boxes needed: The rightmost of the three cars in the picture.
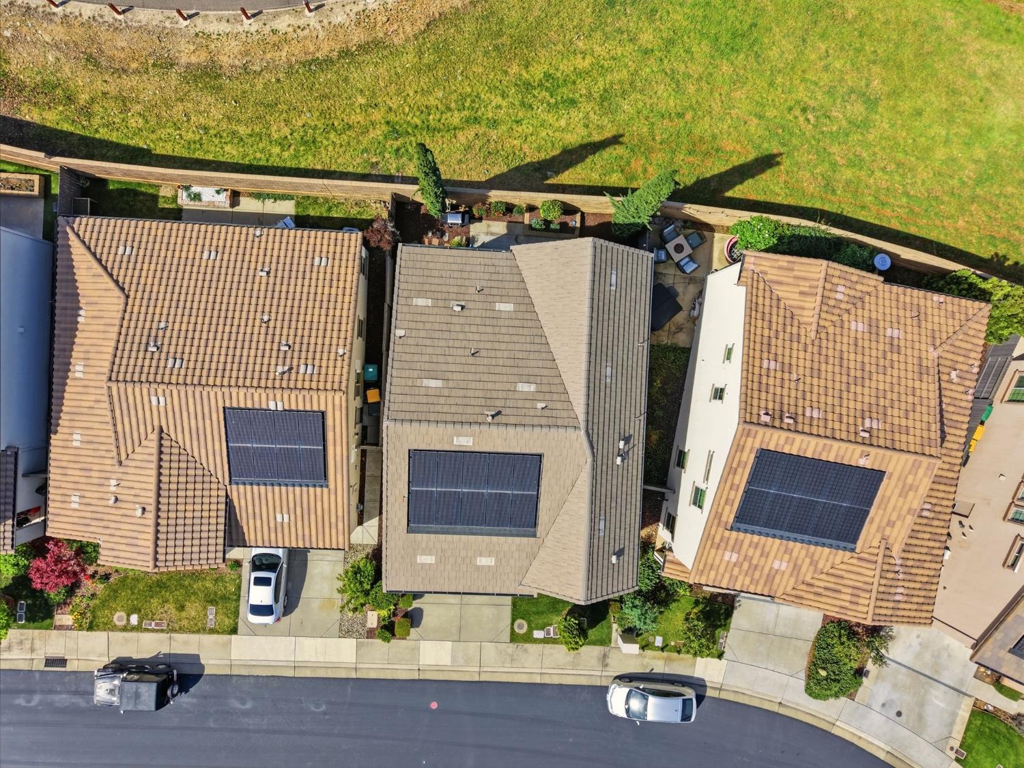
[604,673,695,721]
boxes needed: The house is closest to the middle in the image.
[380,234,656,606]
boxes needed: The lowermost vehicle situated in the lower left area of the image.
[97,661,177,710]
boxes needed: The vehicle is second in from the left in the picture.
[245,552,289,623]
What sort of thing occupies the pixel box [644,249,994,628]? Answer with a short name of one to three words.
house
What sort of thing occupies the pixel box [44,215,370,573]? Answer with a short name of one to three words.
house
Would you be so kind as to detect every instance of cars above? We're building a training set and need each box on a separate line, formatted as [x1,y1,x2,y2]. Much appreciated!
[604,673,695,721]
[97,661,177,710]
[245,552,289,623]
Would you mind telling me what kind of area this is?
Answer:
residential area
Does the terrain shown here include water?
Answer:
No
